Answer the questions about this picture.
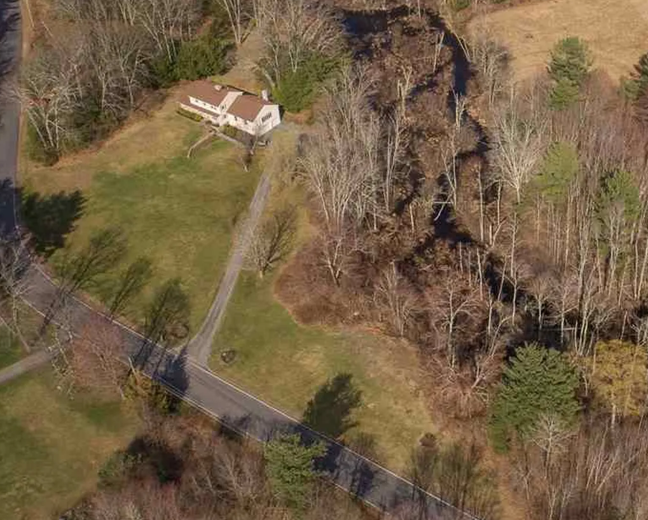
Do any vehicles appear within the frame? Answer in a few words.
No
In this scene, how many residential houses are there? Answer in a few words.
1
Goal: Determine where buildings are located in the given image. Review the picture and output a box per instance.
[177,79,279,134]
